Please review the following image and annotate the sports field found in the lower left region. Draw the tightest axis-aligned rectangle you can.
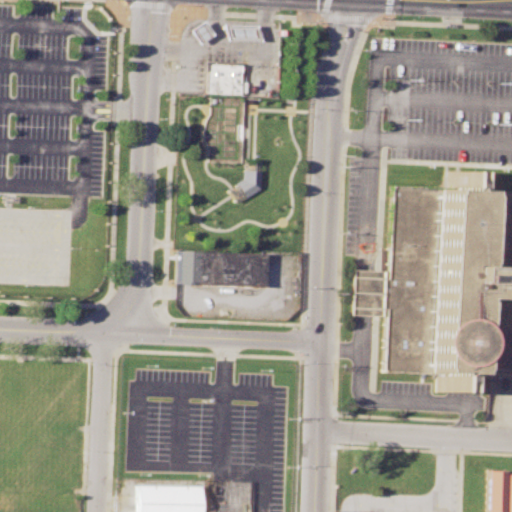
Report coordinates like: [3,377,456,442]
[0,360,86,512]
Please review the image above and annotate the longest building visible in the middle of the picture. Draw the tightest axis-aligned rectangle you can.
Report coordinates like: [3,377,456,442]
[164,251,274,288]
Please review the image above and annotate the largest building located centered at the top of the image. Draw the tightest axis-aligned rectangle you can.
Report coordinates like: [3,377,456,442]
[208,64,249,97]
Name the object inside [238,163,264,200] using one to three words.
building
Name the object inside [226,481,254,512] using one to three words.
shed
